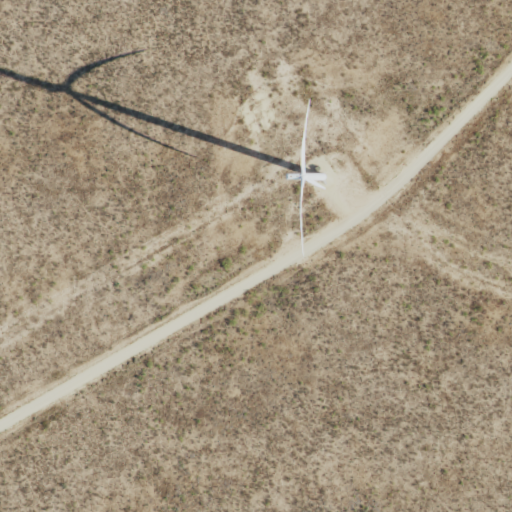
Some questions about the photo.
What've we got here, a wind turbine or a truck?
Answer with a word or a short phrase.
wind turbine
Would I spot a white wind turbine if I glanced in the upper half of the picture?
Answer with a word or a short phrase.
Yes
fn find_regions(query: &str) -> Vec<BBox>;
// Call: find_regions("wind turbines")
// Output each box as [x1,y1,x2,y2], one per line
[287,97,330,256]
